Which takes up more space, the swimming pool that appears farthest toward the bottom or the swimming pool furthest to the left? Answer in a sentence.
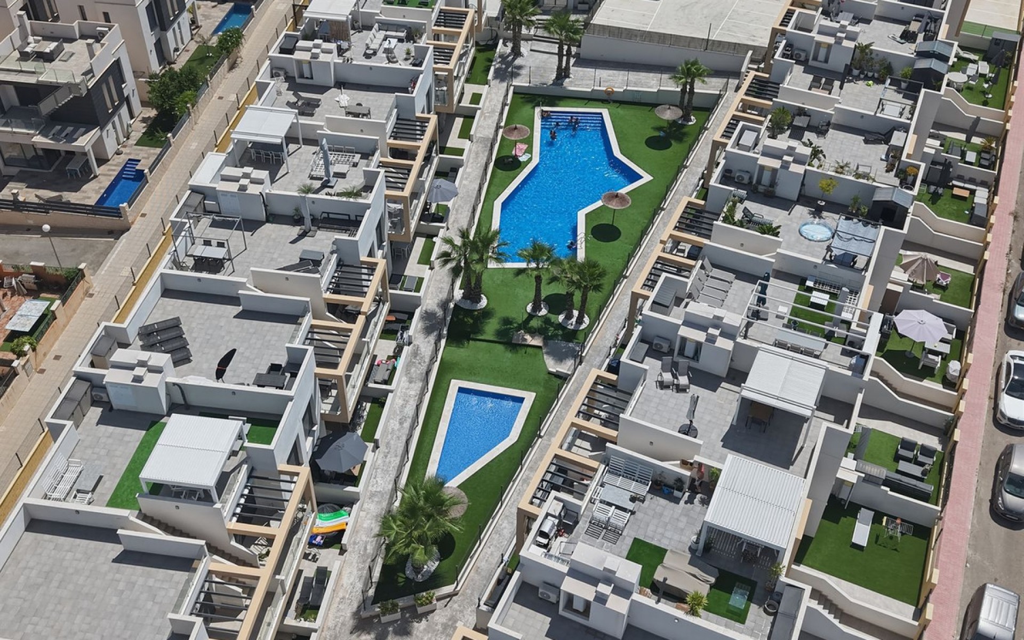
The swimming pool that appears farthest toward the bottom is larger than the swimming pool furthest to the left.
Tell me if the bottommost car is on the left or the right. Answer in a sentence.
The bottommost car is on the right side of the image.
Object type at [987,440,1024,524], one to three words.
car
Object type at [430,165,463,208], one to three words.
umbrella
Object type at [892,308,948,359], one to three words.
umbrella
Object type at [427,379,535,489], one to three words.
swimming pool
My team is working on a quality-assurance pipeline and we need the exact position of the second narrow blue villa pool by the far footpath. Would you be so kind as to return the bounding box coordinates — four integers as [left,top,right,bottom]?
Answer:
[215,3,253,33]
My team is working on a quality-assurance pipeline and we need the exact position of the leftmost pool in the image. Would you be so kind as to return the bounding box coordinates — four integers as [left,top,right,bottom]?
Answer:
[94,159,151,208]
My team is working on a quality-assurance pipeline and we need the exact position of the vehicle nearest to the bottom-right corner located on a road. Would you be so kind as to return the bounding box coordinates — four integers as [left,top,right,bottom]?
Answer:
[961,578,1017,640]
